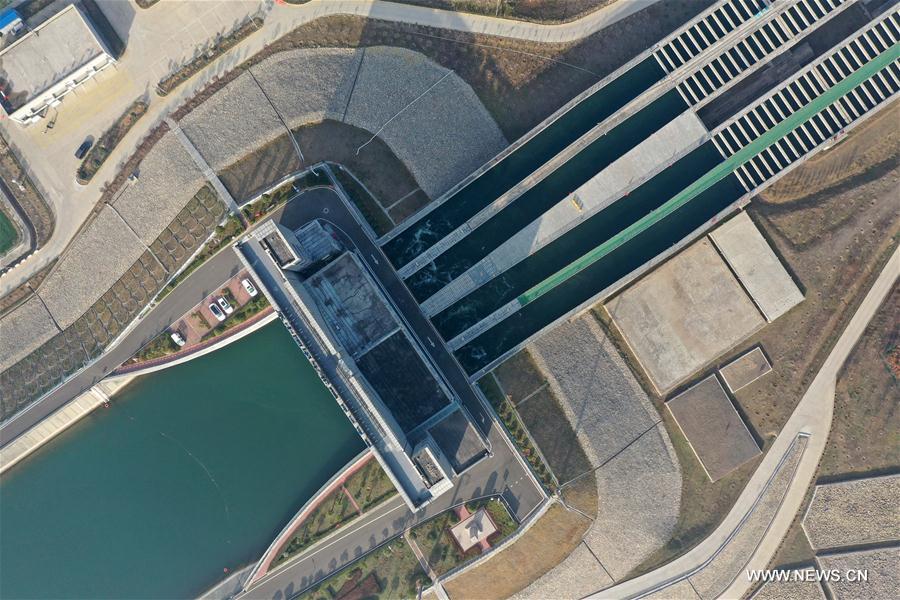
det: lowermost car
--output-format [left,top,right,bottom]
[171,330,186,348]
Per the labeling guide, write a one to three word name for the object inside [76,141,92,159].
car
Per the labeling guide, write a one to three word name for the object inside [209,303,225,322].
car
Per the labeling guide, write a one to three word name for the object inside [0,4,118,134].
building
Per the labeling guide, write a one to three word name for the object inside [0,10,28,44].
shed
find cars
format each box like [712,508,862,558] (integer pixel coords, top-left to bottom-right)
[171,330,186,348]
[218,296,234,314]
[242,278,258,297]
[76,141,92,159]
[209,303,225,322]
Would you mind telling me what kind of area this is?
industrial area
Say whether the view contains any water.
Yes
